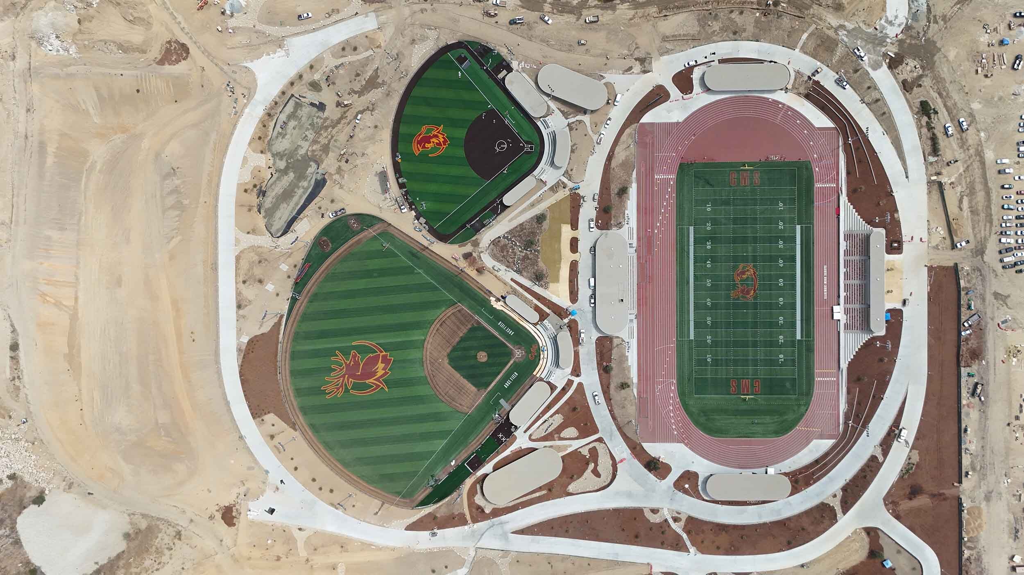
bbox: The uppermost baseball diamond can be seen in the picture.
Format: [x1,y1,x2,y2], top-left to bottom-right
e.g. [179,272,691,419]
[398,48,539,236]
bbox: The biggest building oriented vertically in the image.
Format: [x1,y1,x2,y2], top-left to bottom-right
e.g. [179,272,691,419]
[596,232,629,335]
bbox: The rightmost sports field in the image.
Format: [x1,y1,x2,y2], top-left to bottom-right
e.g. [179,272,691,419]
[677,161,814,438]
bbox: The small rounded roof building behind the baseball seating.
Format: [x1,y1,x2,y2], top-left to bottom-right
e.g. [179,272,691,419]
[557,331,574,370]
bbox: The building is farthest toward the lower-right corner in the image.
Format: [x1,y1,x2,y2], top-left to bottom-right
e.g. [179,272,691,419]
[706,473,791,501]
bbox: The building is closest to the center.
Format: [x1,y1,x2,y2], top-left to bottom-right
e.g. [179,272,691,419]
[506,295,539,323]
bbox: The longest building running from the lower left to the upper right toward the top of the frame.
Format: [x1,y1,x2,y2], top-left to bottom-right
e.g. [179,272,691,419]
[503,176,536,206]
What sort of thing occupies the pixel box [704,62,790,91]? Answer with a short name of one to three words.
building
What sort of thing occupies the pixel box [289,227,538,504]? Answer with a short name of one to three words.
baseball field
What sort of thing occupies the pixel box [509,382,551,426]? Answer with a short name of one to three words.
building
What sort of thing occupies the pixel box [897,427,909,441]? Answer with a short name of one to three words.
vehicle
